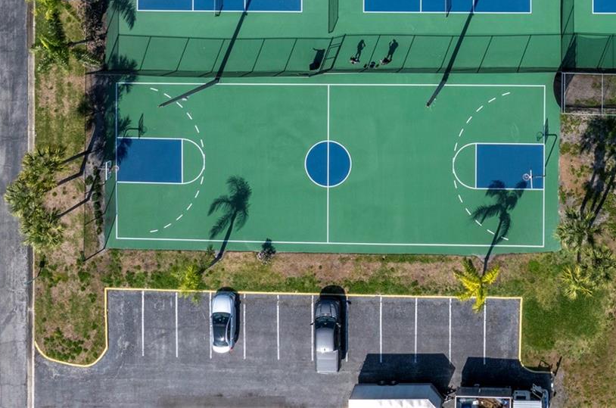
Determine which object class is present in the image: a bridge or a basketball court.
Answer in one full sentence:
There is a basketball court in the scene.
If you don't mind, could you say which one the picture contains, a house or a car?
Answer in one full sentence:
This aerial view contains a car.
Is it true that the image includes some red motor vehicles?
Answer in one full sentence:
No, there's no red motor vehicle here.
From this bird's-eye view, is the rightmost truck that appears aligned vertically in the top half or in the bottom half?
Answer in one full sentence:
It is in the bottom half that the rightmost truck that appears aligned vertically appears.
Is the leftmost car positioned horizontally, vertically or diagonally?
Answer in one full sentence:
The leftmost car has been laid out vertically relative to the frame.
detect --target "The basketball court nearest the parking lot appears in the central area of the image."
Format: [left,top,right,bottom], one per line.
[104,69,560,253]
